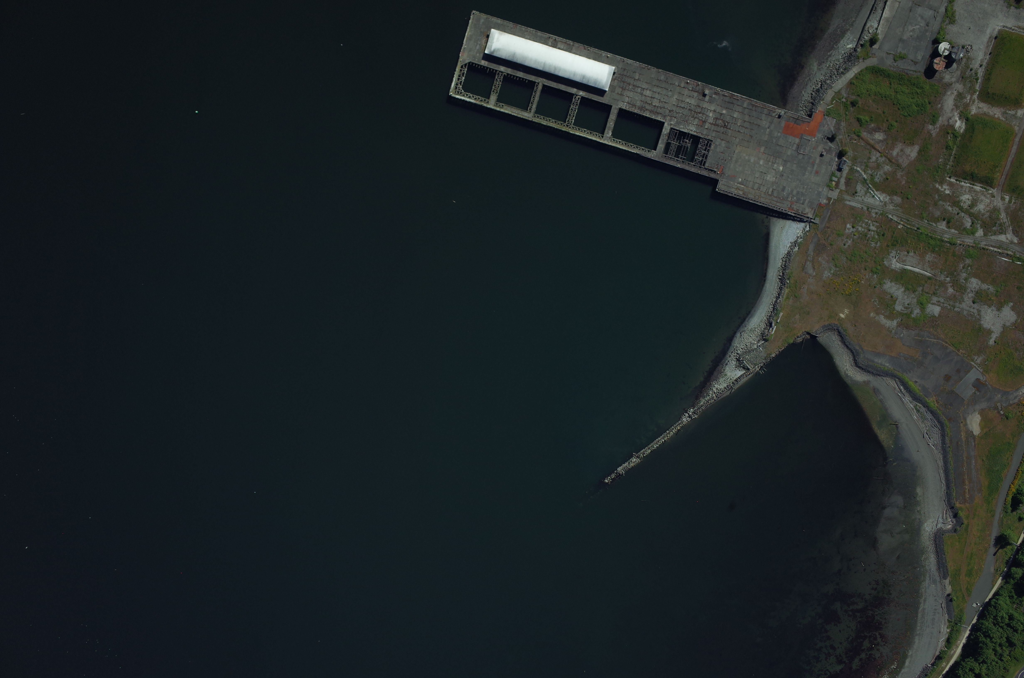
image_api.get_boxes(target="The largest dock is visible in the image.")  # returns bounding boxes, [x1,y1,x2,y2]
[450,11,841,224]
